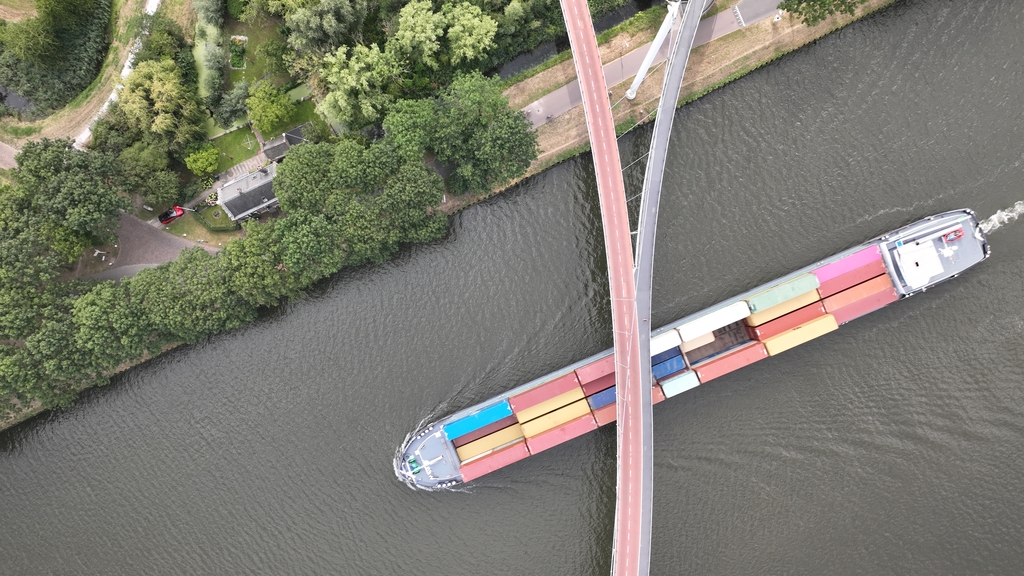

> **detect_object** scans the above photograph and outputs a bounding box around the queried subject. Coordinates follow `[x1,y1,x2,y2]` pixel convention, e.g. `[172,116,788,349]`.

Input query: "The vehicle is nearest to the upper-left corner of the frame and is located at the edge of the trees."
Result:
[159,206,184,223]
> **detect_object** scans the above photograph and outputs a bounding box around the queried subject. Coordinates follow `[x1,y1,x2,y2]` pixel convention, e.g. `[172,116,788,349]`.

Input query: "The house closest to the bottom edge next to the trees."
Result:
[213,159,287,222]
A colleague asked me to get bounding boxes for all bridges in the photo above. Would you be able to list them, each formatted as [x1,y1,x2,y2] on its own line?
[559,0,717,576]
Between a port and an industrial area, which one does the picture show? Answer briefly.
port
